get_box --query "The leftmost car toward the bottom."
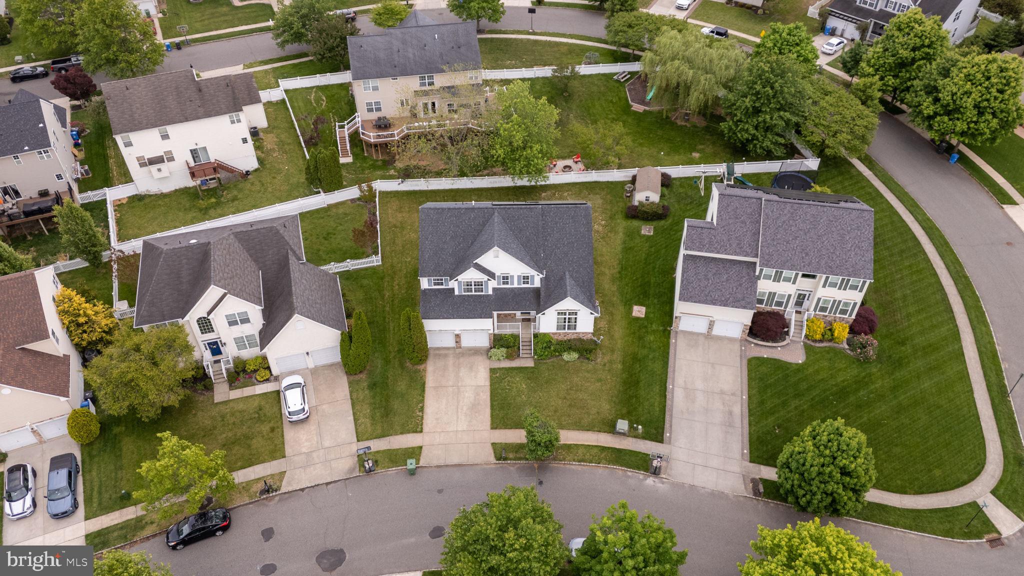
[0,463,34,519]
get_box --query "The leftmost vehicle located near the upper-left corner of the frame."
[9,66,47,80]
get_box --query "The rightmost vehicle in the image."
[824,37,848,53]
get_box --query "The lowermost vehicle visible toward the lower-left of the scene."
[163,508,232,549]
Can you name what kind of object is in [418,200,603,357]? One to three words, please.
house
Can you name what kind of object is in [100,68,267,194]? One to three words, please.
house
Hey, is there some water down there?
No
